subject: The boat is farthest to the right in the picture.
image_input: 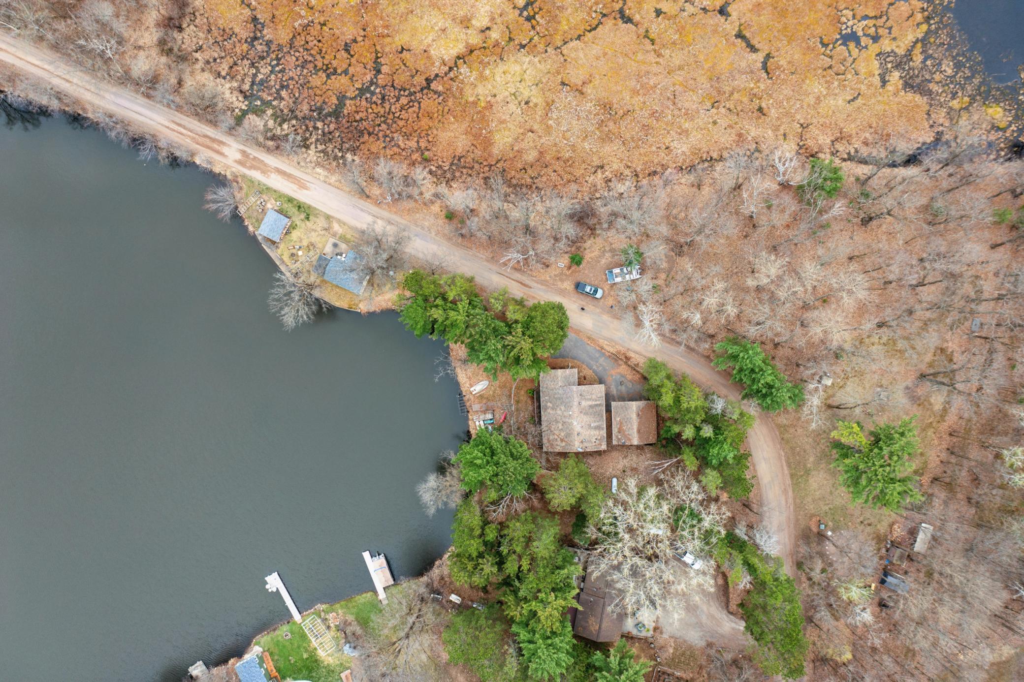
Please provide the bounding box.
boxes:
[599,264,644,283]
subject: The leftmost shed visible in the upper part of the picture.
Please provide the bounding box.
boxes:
[258,208,293,242]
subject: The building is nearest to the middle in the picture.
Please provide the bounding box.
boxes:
[533,368,606,452]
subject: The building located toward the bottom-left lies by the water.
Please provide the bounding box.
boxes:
[235,649,283,682]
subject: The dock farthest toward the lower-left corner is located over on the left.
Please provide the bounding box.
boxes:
[266,572,303,627]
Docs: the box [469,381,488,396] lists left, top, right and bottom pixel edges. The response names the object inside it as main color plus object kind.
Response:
white boat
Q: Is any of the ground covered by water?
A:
Yes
